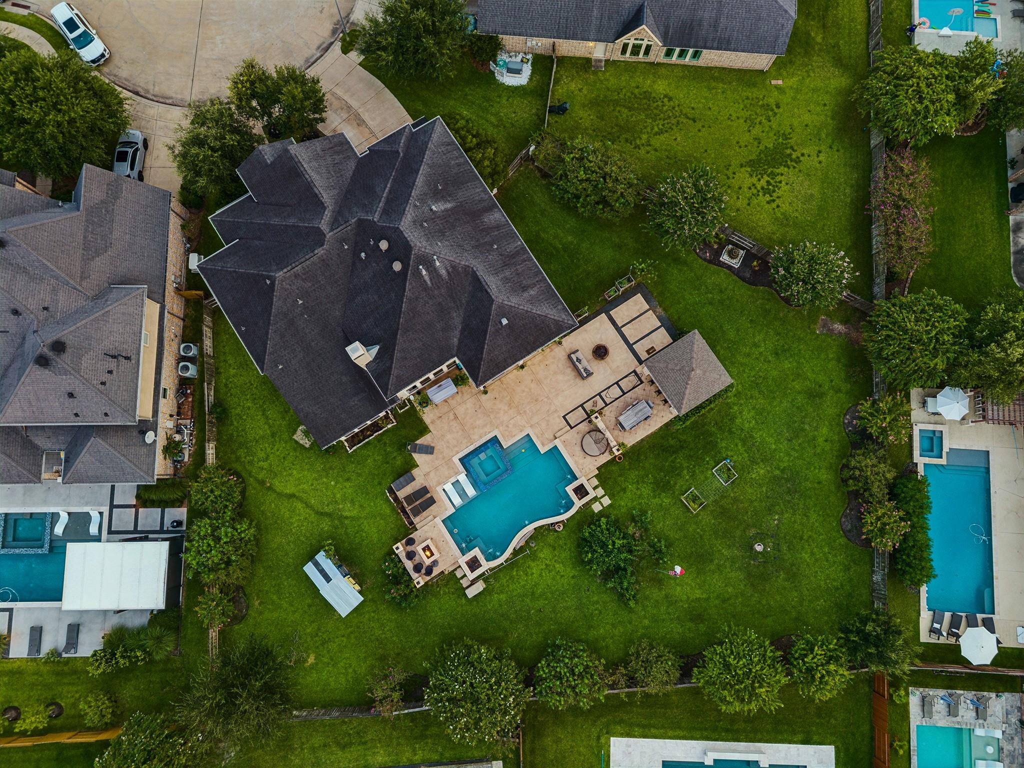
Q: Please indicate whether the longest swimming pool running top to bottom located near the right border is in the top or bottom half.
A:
bottom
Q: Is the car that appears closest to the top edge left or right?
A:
left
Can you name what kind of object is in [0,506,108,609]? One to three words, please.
swimming pool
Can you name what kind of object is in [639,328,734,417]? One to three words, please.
building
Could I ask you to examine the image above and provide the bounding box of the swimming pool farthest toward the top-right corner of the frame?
[971,11,1004,39]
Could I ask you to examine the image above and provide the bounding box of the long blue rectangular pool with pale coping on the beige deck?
[918,442,1002,621]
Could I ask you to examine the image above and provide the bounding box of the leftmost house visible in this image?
[0,163,189,486]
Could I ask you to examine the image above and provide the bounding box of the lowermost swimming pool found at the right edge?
[914,722,1000,768]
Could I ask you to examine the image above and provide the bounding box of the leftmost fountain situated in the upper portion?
[719,246,745,269]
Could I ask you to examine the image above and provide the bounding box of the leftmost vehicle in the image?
[48,0,116,74]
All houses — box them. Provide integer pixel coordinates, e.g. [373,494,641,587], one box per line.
[195,116,578,450]
[462,0,798,72]
[0,163,189,486]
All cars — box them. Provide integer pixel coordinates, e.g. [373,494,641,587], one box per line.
[109,131,150,184]
[48,0,116,74]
